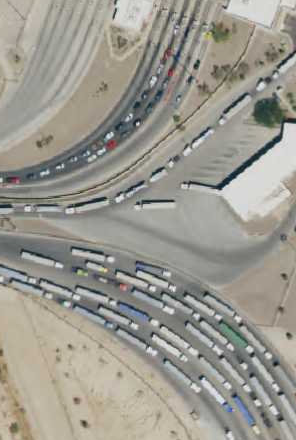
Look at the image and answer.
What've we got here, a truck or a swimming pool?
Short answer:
truck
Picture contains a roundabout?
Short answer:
No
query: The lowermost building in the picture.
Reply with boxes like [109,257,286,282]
[222,122,296,221]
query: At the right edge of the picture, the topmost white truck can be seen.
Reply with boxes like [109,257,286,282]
[272,54,296,80]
